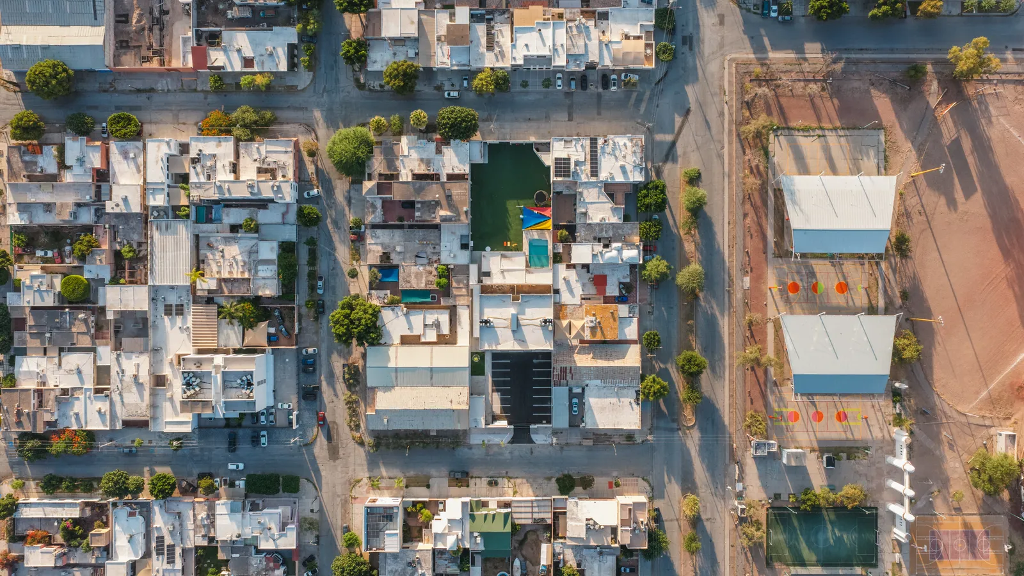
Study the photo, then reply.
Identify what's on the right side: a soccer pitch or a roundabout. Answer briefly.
soccer pitch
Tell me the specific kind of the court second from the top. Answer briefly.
basketball court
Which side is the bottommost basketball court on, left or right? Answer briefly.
right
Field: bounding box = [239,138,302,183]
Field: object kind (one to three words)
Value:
house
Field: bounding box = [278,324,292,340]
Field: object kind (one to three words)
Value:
car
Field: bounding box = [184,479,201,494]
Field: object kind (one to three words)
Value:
vehicle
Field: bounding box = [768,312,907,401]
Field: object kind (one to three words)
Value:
building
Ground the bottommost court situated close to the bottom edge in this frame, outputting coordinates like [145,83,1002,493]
[910,515,1006,576]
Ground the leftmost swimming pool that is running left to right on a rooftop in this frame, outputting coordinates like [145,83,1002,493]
[401,290,431,302]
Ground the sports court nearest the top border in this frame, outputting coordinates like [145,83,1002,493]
[771,127,886,177]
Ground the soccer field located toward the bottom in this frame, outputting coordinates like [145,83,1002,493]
[767,507,878,568]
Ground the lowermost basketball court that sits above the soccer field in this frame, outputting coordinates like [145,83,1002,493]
[773,396,887,441]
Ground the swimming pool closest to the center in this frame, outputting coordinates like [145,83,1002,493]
[529,239,549,269]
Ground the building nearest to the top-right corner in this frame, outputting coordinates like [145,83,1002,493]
[770,172,906,260]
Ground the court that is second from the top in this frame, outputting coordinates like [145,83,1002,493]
[773,260,887,314]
